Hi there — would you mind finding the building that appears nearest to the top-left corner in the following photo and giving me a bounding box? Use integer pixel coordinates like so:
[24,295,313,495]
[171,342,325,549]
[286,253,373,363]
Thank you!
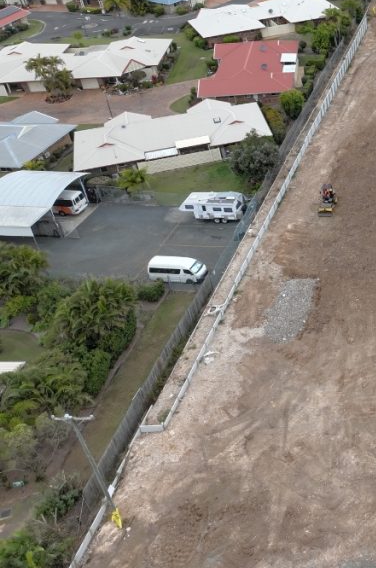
[0,4,30,32]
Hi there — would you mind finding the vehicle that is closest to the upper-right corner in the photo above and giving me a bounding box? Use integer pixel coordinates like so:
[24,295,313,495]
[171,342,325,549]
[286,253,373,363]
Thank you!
[312,185,338,214]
